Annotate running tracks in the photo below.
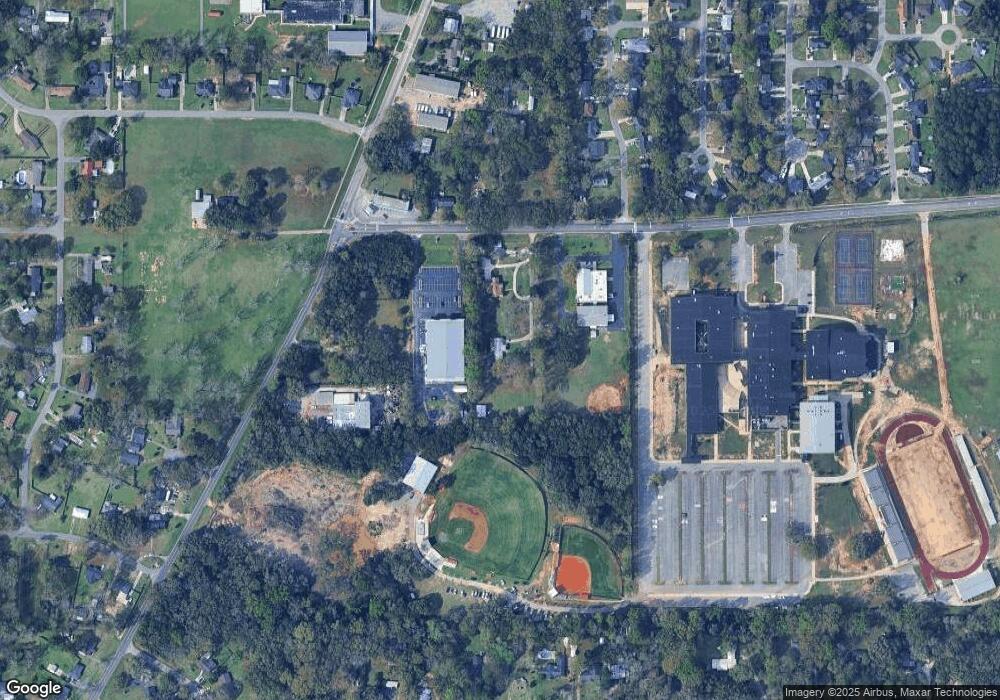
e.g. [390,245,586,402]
[872,413,992,595]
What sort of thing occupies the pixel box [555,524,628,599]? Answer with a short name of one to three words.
baseball field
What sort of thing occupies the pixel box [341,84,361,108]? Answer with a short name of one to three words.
house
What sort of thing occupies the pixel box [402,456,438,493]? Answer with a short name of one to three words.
building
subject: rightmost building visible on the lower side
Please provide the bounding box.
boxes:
[955,569,996,598]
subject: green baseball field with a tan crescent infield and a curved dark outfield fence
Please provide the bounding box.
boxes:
[430,421,597,580]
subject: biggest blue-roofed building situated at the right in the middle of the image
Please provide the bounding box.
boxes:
[671,290,805,464]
